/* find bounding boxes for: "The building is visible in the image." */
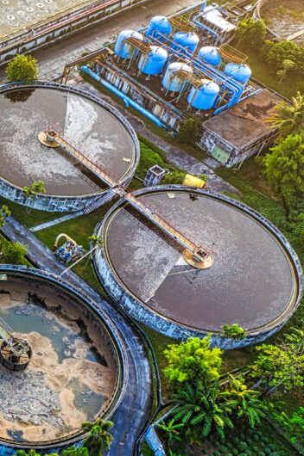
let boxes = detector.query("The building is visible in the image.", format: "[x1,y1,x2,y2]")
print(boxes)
[195,97,286,163]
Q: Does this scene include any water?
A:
Yes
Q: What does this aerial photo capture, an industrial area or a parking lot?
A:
industrial area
